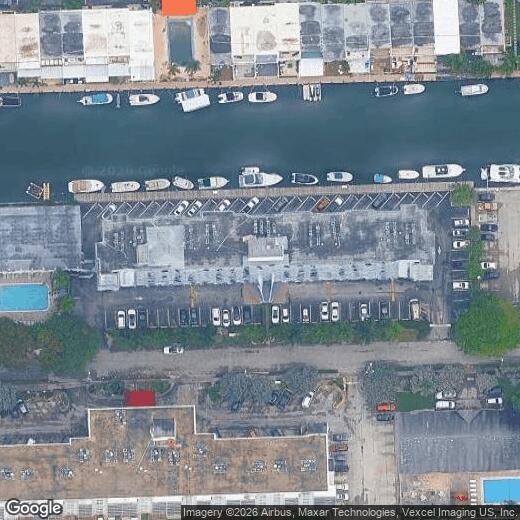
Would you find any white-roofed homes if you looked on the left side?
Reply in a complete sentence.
Yes, a white-roofed home shows up on the left side.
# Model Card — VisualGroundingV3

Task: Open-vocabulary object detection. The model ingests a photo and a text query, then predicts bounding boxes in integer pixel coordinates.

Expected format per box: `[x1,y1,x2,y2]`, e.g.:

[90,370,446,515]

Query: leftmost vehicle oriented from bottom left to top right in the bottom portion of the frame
[228,397,245,415]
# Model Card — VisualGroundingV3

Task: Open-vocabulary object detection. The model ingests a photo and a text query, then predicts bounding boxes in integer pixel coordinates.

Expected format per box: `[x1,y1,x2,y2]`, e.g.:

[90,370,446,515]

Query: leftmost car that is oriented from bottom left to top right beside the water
[100,201,117,217]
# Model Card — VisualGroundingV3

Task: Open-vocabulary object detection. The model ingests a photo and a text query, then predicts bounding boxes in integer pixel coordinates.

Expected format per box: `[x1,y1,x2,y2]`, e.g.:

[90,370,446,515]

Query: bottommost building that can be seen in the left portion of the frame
[0,405,335,519]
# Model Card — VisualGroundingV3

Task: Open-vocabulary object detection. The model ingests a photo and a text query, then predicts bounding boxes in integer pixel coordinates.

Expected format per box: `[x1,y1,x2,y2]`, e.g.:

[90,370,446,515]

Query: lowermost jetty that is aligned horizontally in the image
[74,181,474,202]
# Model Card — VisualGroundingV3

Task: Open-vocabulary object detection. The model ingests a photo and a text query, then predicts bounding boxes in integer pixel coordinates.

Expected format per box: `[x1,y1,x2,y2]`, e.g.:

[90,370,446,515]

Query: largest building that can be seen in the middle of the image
[97,204,434,307]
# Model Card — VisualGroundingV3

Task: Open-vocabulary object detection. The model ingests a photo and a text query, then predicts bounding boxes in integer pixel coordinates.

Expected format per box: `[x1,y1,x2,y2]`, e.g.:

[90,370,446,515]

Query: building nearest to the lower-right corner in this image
[397,410,520,470]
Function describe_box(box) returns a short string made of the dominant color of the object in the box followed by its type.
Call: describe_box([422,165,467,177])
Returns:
white boat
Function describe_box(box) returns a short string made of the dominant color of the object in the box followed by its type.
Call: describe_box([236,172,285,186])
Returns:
white boat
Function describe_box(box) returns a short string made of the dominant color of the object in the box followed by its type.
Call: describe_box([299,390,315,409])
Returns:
white car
